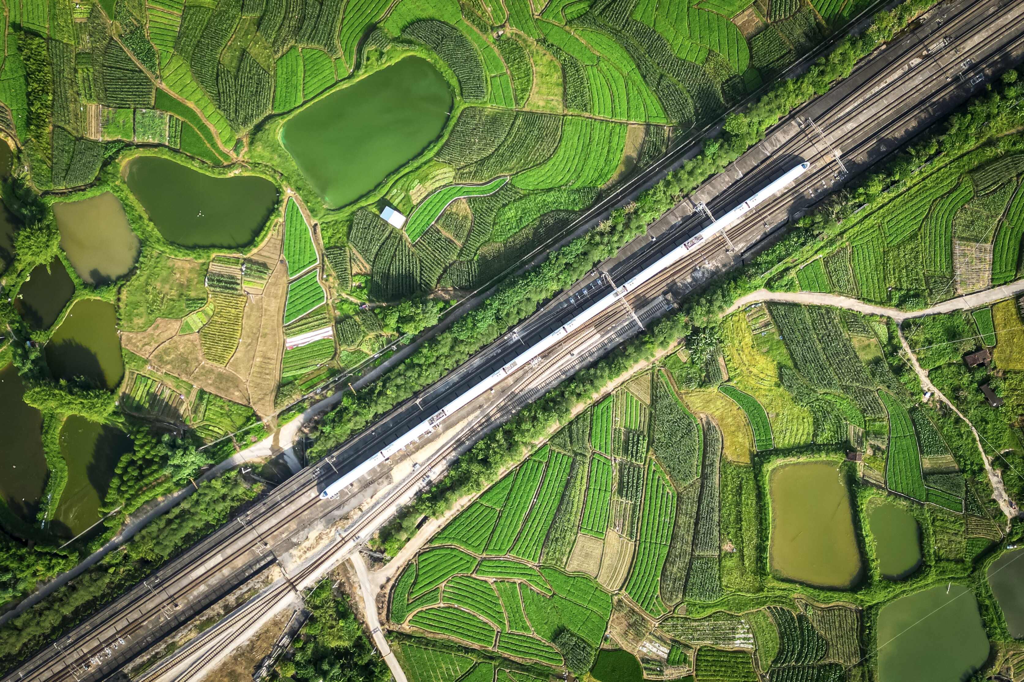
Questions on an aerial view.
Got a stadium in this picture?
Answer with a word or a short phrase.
No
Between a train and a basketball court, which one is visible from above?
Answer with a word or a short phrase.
train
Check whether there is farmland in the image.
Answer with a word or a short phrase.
Yes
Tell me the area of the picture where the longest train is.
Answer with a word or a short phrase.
center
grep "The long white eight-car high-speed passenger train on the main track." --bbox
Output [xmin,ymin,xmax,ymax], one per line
[321,162,809,498]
